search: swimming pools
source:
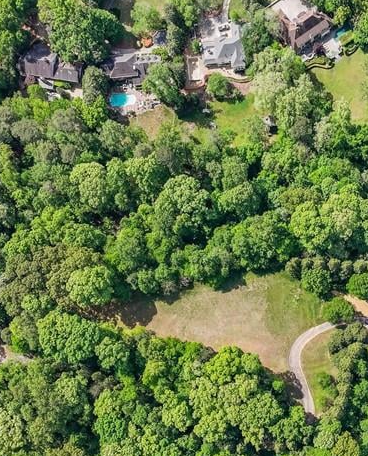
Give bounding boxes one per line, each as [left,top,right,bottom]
[108,92,136,108]
[334,27,349,42]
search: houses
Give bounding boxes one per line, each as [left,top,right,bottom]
[203,19,246,75]
[22,45,83,86]
[277,7,333,58]
[109,49,161,85]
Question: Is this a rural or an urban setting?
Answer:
rural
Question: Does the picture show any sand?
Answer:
No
